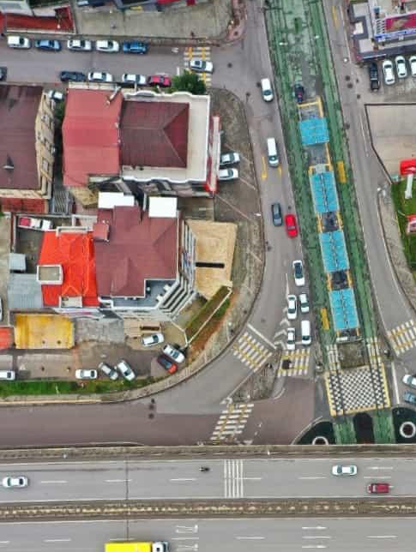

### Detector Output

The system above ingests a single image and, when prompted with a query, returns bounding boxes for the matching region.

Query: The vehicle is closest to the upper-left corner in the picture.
[6,38,32,51]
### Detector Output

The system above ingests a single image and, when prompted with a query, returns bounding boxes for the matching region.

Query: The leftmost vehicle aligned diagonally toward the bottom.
[98,361,119,382]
